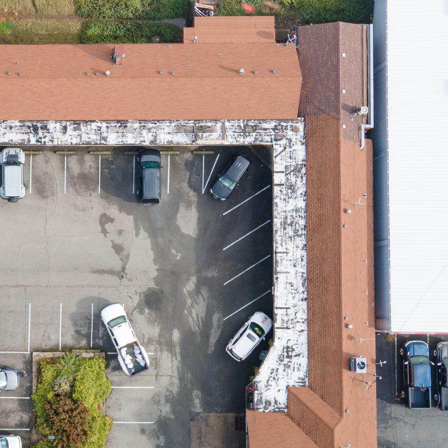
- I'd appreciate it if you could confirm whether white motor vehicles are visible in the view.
Yes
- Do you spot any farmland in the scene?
No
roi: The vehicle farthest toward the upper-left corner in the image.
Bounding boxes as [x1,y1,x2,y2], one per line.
[0,149,26,204]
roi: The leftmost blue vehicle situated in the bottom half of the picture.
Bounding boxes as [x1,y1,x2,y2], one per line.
[399,339,433,411]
